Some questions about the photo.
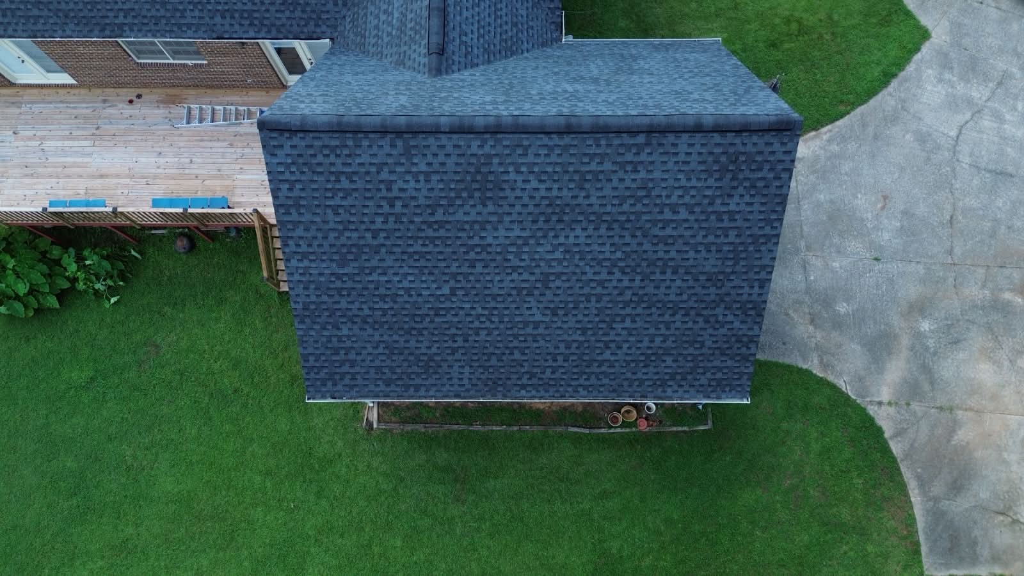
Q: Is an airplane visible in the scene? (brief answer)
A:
No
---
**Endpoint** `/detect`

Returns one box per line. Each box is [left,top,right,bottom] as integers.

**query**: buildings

[0,0,805,404]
